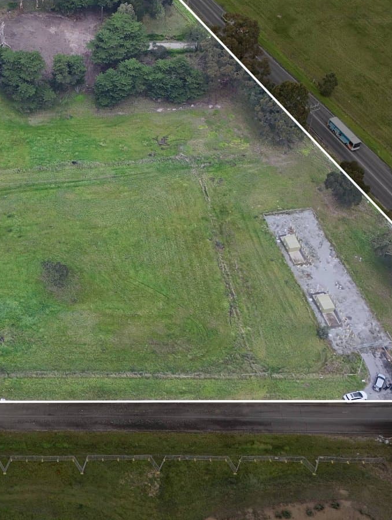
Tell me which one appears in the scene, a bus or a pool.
bus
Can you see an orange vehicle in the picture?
No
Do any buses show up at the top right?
Yes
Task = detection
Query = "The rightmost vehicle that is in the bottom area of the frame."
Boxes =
[374,373,387,391]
